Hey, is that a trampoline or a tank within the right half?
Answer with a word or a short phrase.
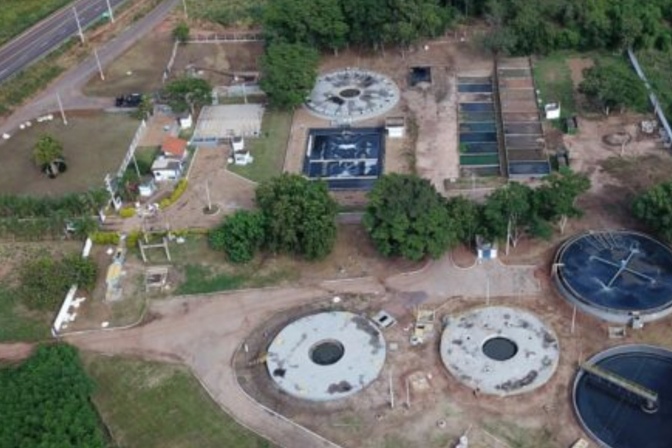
tank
